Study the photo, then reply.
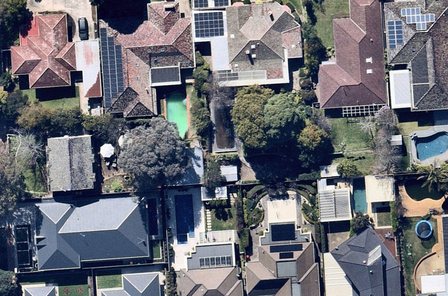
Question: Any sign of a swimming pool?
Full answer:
Yes, I can see a swimming pool in this picture.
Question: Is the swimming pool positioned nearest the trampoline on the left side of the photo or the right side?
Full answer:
The swimming pool positioned nearest the trampoline appears in the right half of the scene.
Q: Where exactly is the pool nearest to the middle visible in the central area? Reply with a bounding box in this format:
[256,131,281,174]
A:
[213,97,239,152]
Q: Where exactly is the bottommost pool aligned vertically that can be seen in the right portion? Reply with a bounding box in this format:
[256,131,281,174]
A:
[351,175,370,214]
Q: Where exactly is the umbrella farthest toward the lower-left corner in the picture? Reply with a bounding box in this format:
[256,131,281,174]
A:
[100,143,115,157]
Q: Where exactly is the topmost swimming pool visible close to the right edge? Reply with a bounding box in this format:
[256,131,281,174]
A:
[414,130,448,161]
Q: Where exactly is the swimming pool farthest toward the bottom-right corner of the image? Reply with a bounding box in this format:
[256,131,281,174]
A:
[403,175,448,202]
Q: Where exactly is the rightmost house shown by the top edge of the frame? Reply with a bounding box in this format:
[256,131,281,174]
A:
[382,0,448,110]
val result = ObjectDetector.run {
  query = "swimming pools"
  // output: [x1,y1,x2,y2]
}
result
[173,192,197,246]
[164,91,190,140]
[414,130,448,161]
[403,175,448,202]
[351,175,370,214]
[213,97,239,152]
